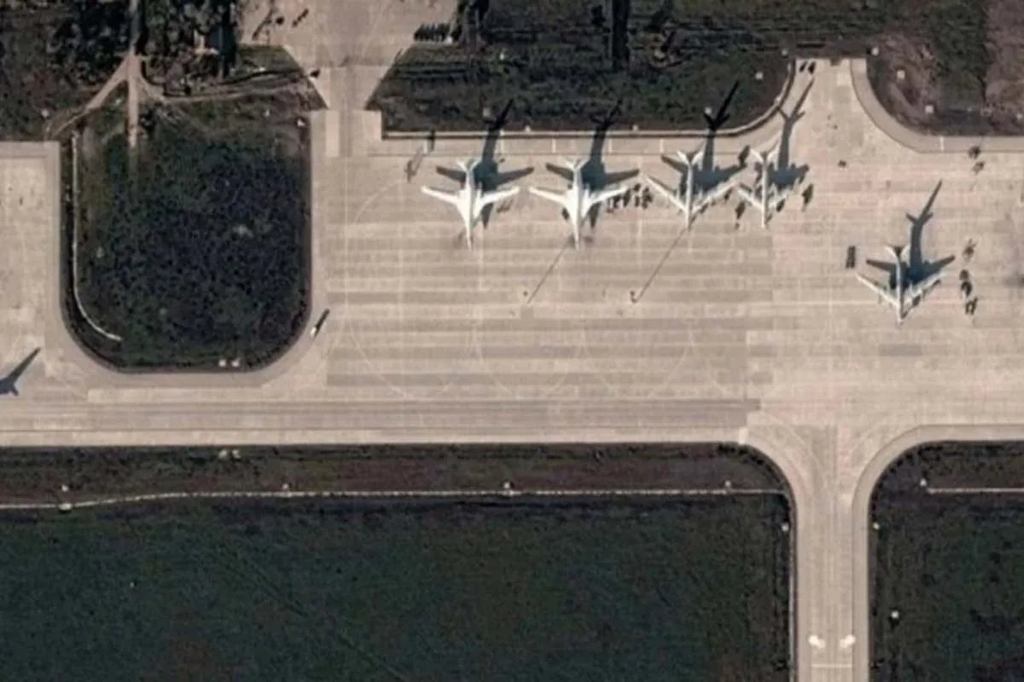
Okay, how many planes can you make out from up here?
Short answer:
5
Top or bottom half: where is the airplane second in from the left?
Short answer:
top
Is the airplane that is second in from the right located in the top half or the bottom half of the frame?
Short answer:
top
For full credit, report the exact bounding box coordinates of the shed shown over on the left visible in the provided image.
[207,27,232,60]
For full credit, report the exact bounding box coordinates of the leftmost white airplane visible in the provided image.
[423,157,518,249]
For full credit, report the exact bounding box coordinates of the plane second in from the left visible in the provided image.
[531,158,626,248]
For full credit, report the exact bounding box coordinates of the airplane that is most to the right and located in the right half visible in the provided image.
[857,243,942,324]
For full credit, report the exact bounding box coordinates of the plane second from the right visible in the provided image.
[738,149,790,227]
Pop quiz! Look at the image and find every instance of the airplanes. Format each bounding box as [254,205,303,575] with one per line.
[423,157,518,249]
[857,243,942,324]
[531,158,626,248]
[646,150,731,230]
[738,149,790,227]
